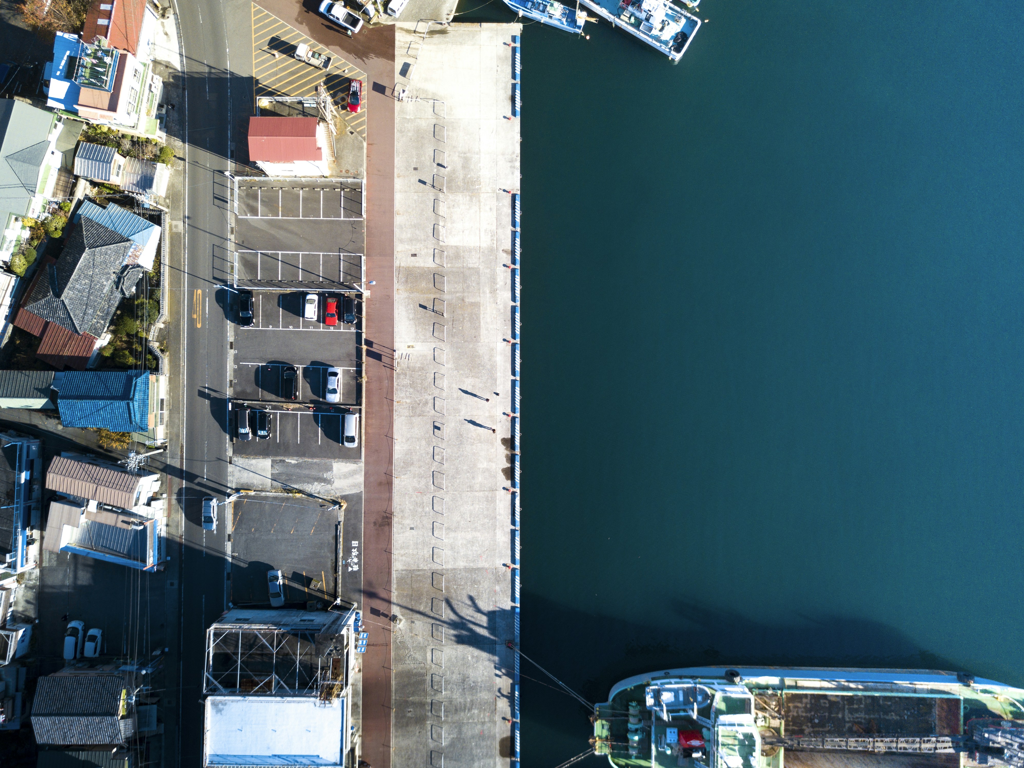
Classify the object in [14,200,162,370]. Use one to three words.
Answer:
house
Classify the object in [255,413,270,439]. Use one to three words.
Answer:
car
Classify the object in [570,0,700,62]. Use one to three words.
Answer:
boat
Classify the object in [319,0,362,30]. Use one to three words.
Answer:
truck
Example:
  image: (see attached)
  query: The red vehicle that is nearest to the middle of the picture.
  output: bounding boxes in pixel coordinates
[323,297,338,326]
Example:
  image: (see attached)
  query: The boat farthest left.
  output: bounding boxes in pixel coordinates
[500,0,593,38]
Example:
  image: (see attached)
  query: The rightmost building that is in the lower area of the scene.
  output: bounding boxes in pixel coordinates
[201,608,354,768]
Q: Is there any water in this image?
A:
Yes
